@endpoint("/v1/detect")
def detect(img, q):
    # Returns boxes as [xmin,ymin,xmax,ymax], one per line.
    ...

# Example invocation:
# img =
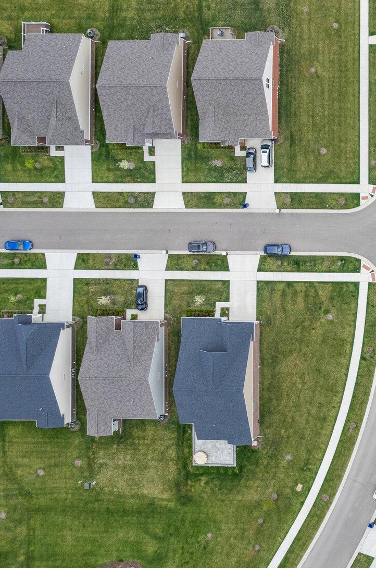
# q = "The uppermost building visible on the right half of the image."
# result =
[192,30,284,147]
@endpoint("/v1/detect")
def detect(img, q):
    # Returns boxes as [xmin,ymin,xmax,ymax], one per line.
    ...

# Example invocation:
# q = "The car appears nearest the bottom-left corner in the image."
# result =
[135,285,149,311]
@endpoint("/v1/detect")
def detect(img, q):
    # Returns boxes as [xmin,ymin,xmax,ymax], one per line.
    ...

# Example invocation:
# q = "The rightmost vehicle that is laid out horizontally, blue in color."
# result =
[264,244,292,256]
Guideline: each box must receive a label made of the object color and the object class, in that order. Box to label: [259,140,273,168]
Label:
white vehicle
